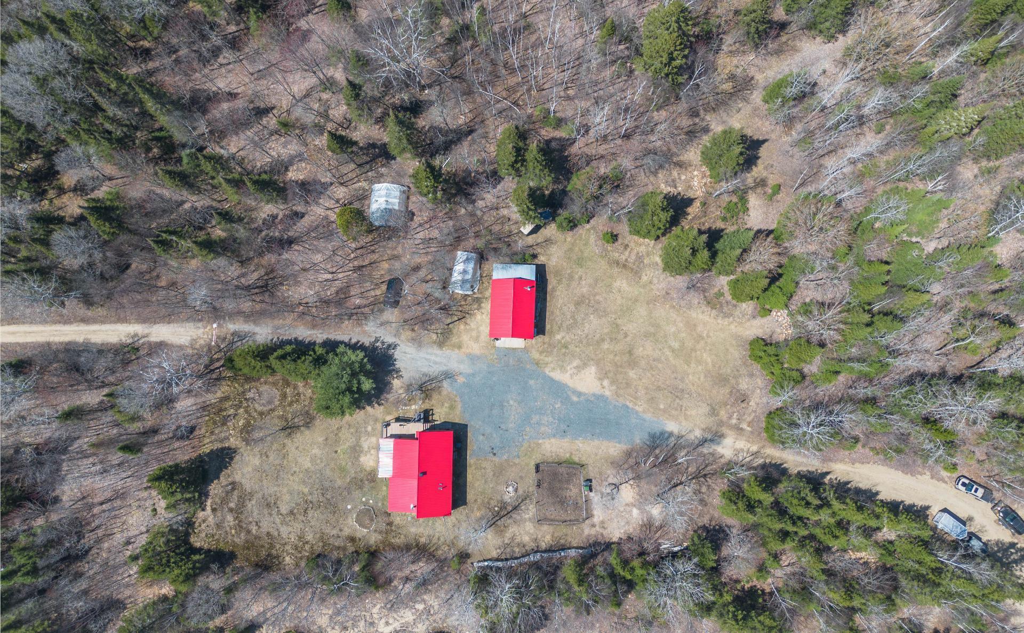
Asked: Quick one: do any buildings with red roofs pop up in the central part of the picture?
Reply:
Yes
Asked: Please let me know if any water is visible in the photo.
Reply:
No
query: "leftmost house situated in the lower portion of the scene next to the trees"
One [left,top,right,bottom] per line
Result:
[380,408,453,518]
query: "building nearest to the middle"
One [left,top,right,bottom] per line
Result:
[490,263,537,339]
